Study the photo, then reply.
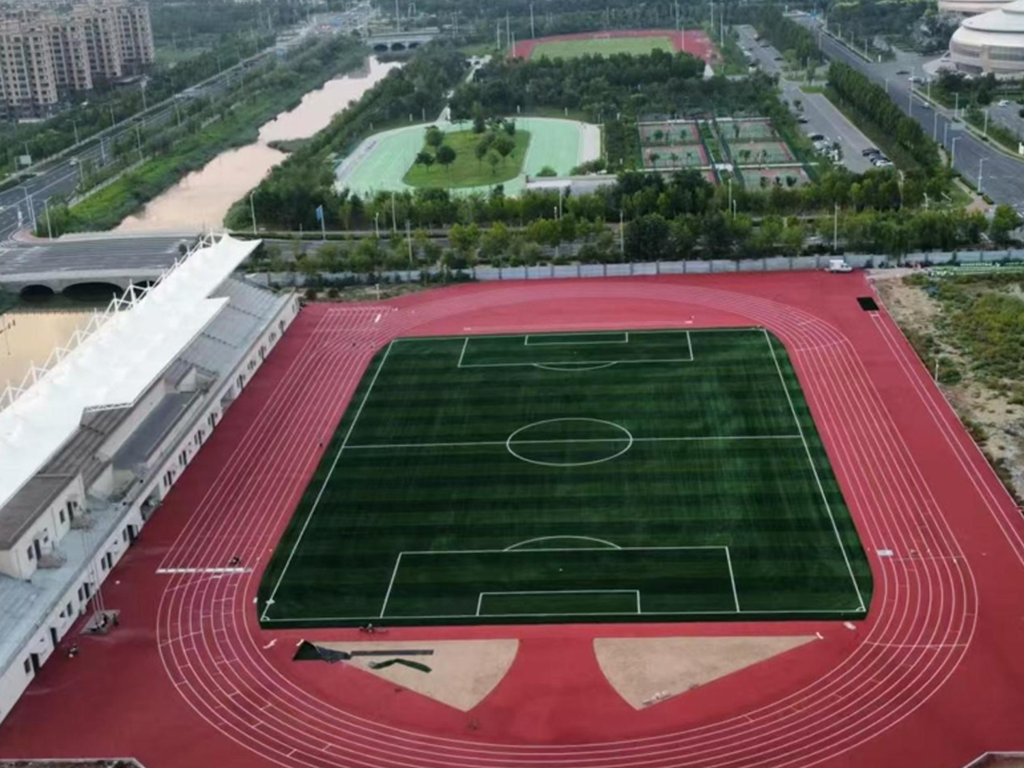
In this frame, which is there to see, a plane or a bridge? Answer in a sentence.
The image shows a bridge.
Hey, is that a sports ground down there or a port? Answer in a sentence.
It's a sports ground.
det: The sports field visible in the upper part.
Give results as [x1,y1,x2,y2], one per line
[527,36,675,66]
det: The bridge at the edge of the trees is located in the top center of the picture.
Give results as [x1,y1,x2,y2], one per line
[358,30,450,55]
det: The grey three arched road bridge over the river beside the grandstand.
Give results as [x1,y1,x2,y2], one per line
[0,225,293,298]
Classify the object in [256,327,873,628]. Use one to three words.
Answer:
sports field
